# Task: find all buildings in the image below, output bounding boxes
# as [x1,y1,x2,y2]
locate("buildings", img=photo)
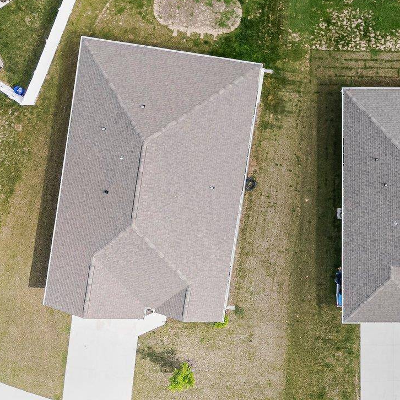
[43,36,273,322]
[340,87,400,324]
